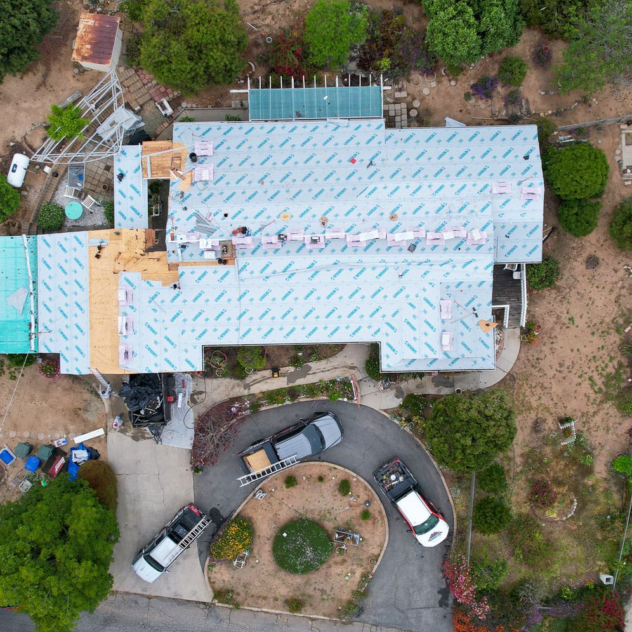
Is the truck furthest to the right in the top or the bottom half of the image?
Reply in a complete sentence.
The bottom half of the photo is where the truck furthest to the right is.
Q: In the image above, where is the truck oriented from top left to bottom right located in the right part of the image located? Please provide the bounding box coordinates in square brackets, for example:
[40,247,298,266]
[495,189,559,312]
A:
[373,456,444,547]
